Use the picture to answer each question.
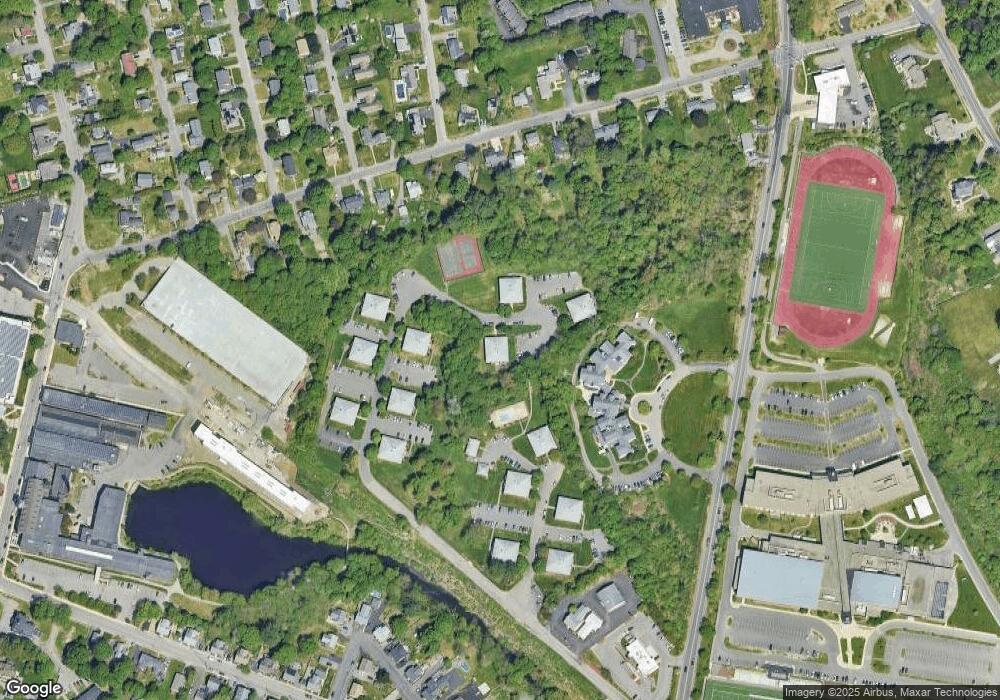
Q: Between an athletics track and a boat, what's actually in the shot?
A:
athletics track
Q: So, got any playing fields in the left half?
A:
No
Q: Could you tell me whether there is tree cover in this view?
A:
Yes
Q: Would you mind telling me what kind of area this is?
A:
residential area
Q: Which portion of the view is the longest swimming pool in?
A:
center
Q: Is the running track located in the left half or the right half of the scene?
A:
right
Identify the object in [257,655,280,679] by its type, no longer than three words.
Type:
house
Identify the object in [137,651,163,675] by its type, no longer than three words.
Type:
house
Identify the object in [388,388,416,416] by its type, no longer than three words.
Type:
building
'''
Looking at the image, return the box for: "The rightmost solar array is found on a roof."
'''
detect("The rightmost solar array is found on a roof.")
[933,583,949,616]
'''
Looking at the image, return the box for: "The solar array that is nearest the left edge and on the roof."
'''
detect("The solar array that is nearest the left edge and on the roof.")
[0,321,24,397]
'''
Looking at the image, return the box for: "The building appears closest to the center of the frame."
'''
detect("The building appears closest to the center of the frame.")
[484,337,509,363]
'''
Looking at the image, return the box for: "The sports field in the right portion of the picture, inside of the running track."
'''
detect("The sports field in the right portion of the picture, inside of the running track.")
[790,183,885,313]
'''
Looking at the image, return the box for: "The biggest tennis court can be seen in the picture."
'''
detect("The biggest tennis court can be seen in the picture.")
[438,236,484,280]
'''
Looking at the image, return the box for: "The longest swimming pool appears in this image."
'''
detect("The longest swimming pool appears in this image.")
[491,401,529,428]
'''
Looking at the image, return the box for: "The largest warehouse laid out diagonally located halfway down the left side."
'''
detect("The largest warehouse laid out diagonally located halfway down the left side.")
[141,258,309,404]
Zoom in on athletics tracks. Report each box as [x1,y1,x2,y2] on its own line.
[773,145,904,349]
